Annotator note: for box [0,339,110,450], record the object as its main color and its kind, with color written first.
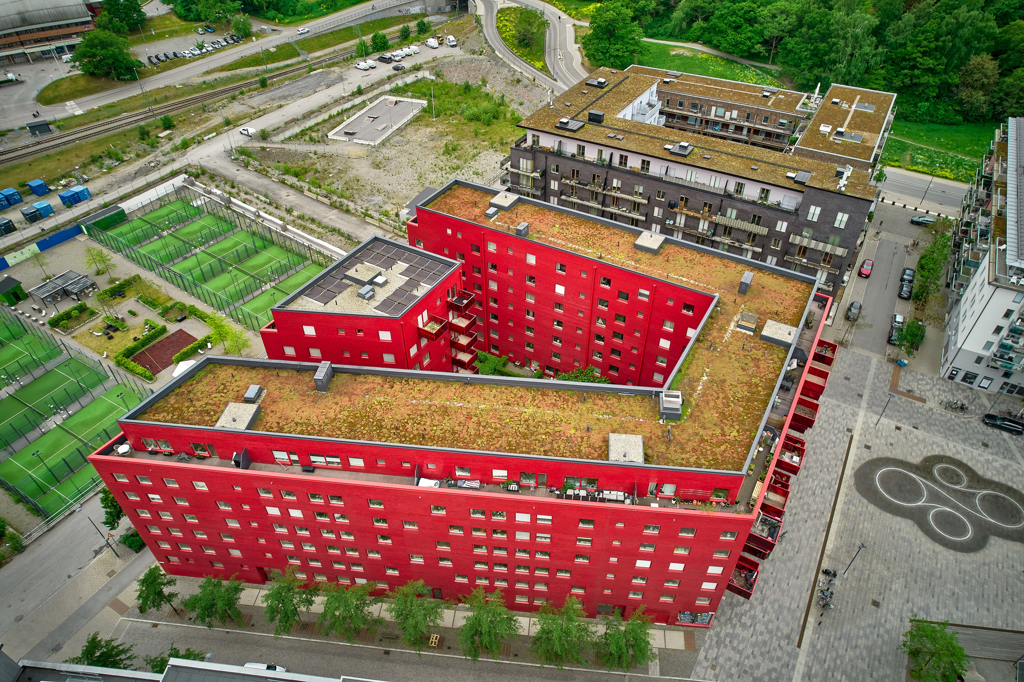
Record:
green sports court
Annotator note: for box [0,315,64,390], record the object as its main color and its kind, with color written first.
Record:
green sports court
